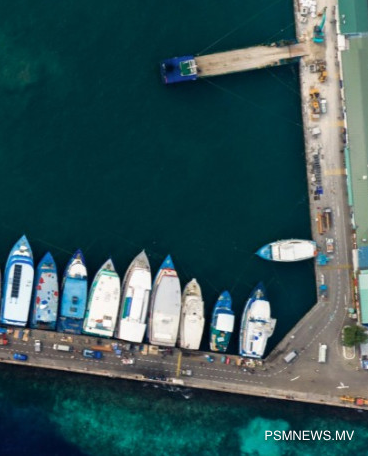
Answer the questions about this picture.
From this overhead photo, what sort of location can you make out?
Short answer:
port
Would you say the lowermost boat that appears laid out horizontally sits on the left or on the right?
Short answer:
right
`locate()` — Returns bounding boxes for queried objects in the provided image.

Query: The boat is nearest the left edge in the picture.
[1,235,34,327]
